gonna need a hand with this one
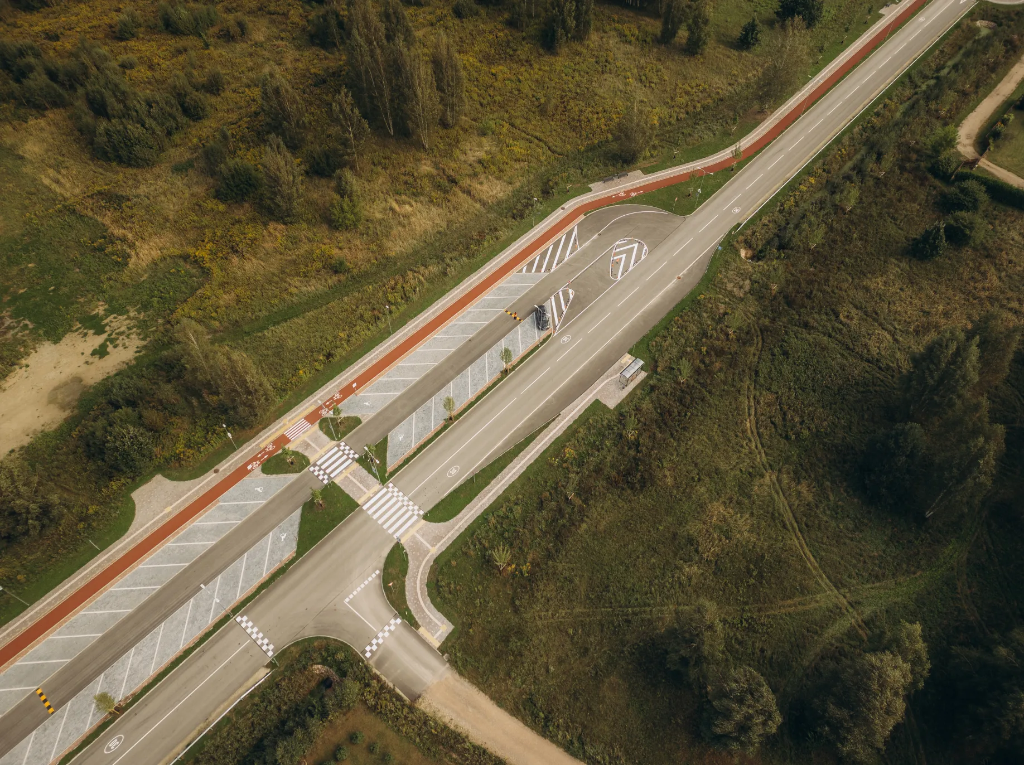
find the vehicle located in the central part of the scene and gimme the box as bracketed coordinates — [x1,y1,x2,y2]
[538,304,551,328]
